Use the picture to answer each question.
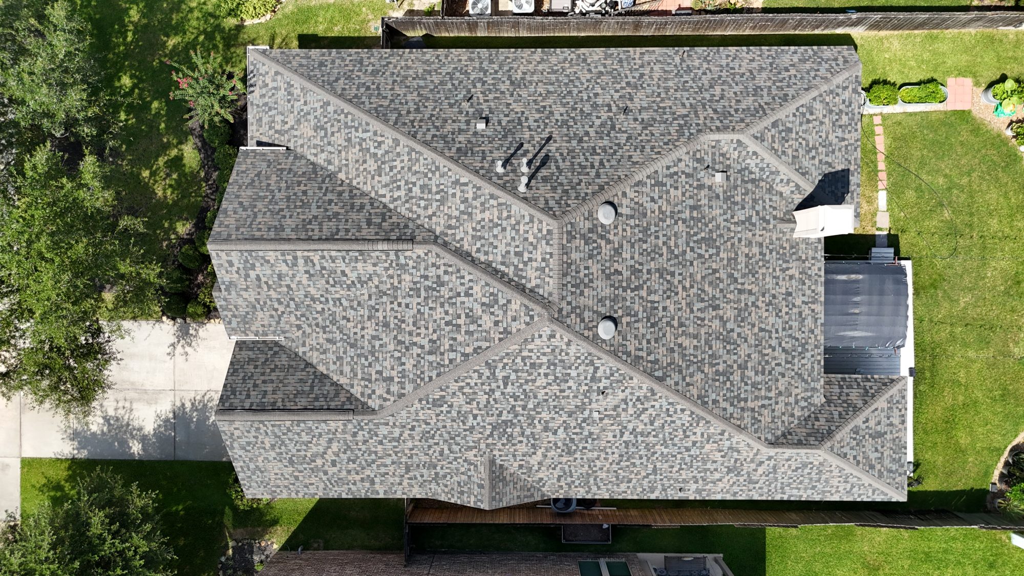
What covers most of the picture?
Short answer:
buildings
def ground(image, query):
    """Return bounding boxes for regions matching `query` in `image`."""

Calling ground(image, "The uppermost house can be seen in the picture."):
[207,45,909,510]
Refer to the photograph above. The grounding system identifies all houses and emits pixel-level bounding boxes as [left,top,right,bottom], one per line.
[207,45,909,510]
[254,548,654,576]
